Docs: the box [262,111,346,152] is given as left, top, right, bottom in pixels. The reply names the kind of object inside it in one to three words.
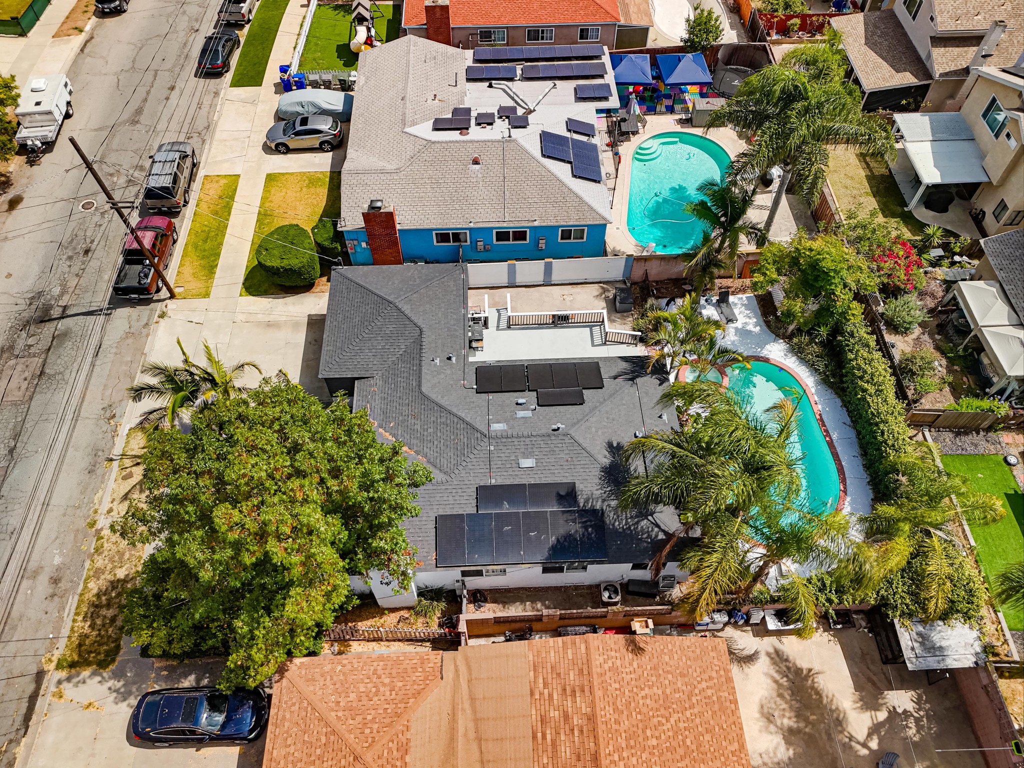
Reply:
car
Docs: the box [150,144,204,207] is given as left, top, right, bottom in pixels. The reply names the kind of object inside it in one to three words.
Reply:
car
